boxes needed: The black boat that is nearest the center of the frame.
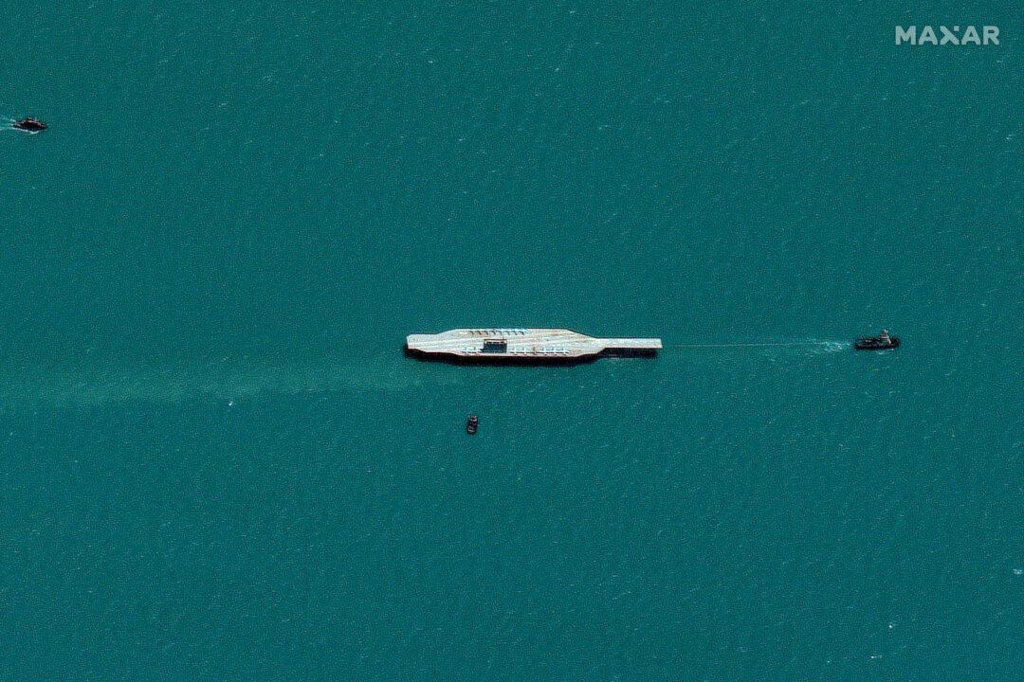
[466,415,478,436]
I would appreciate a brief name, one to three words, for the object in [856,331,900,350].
boat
